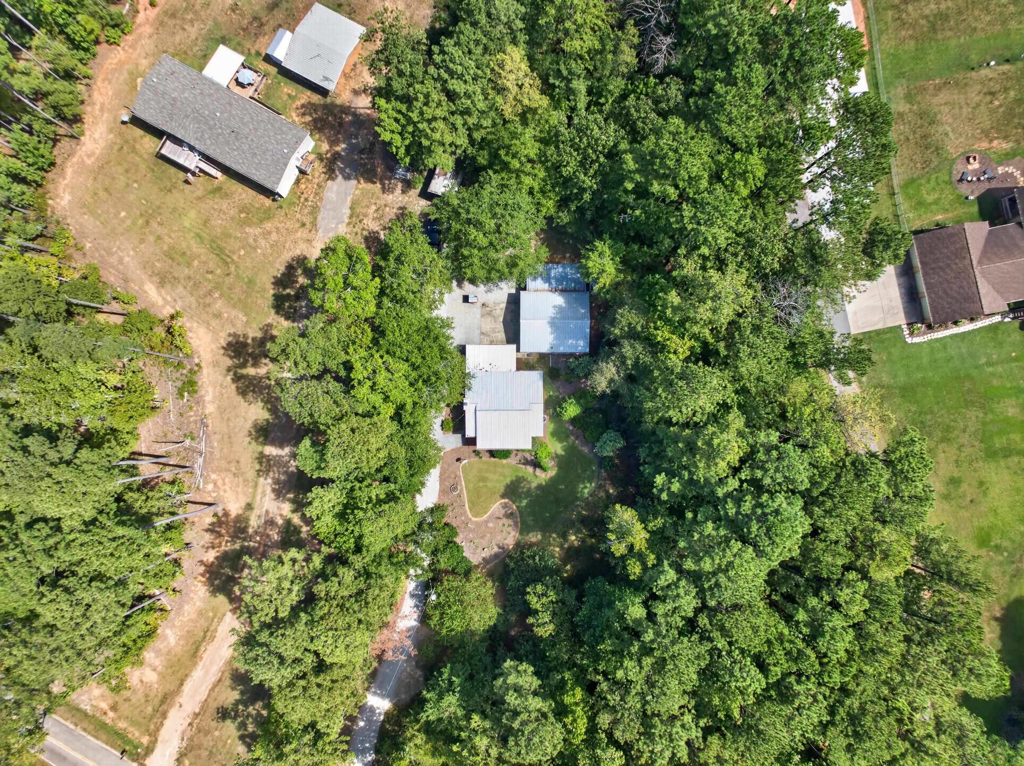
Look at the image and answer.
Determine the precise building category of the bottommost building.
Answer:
home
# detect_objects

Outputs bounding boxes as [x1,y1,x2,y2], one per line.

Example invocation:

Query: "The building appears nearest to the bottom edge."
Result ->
[461,370,544,451]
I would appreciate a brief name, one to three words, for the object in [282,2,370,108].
barn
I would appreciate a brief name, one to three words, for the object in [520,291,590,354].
building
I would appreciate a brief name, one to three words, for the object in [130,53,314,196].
house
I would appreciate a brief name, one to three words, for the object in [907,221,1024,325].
house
